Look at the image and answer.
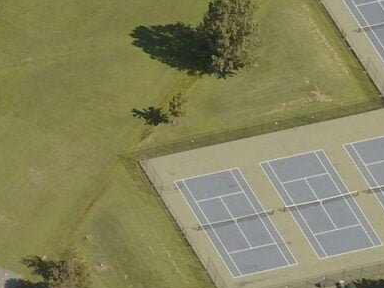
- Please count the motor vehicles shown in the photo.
0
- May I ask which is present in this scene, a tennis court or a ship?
tennis court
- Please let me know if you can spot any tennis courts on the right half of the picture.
Yes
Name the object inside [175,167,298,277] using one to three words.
tennis court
